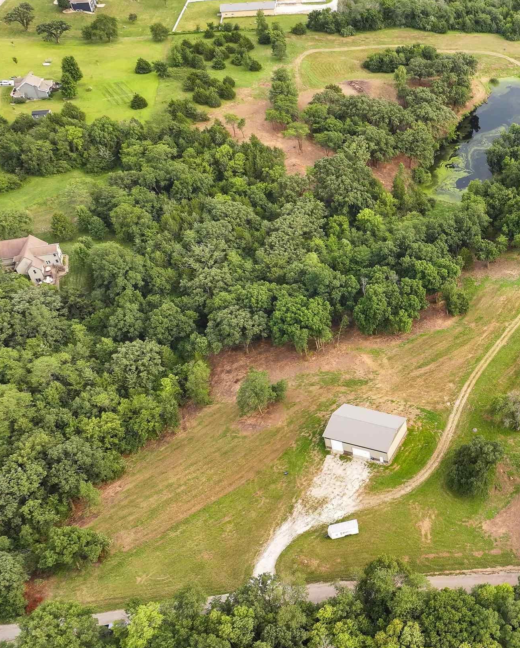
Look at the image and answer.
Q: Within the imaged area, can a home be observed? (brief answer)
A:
Yes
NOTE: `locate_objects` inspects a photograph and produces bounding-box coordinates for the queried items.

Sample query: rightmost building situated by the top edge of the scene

[219,0,277,17]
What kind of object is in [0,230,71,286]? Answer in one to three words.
house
